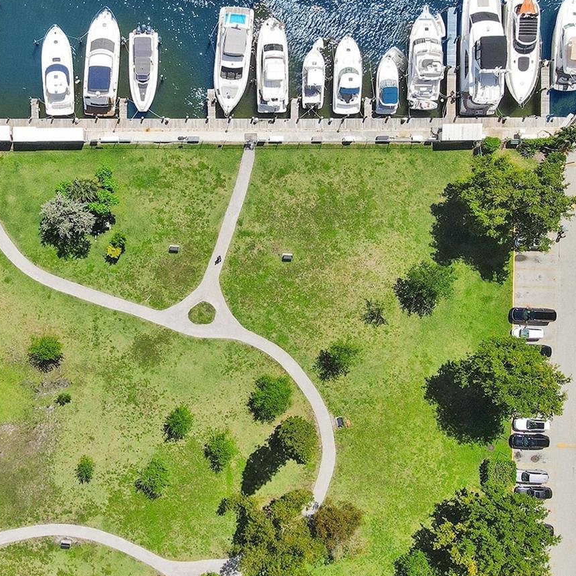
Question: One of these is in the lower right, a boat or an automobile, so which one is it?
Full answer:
Looking in the lower right, you will find an automobile.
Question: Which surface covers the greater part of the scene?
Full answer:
Most of the picture is covered by grass.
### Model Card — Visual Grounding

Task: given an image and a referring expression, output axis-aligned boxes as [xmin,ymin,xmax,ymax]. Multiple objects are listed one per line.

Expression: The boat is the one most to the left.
[40,20,77,118]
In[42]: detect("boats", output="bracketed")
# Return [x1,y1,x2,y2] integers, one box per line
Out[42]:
[128,26,160,112]
[389,46,406,77]
[455,0,506,118]
[254,14,290,117]
[373,53,401,118]
[301,38,328,115]
[407,100,437,112]
[404,3,452,101]
[436,16,447,38]
[83,2,123,118]
[548,0,576,96]
[330,31,365,118]
[502,0,549,110]
[40,20,77,118]
[212,4,254,118]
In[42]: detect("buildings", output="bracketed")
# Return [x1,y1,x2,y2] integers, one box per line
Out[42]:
[14,128,85,144]
[434,123,483,143]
